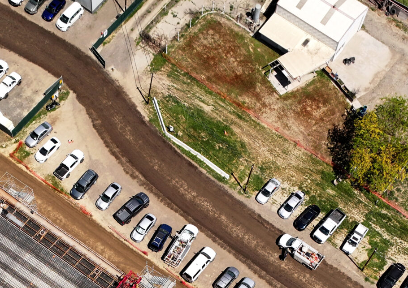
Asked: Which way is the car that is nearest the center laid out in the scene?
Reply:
at an angle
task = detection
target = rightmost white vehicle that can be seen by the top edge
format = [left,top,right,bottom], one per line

[57,0,84,34]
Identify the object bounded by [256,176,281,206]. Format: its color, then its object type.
white car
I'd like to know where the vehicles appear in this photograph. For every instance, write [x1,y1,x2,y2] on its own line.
[342,57,355,64]
[26,121,53,149]
[295,202,319,233]
[237,277,254,288]
[25,0,48,16]
[131,213,157,243]
[164,224,196,269]
[71,168,99,202]
[0,61,9,78]
[117,195,149,226]
[312,205,346,245]
[46,100,59,110]
[180,247,214,285]
[256,176,281,206]
[148,223,171,253]
[96,183,121,212]
[277,236,327,271]
[57,0,84,34]
[378,261,406,288]
[341,222,371,257]
[213,266,239,288]
[43,0,67,22]
[0,72,22,102]
[36,137,62,165]
[278,189,306,220]
[53,150,85,183]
